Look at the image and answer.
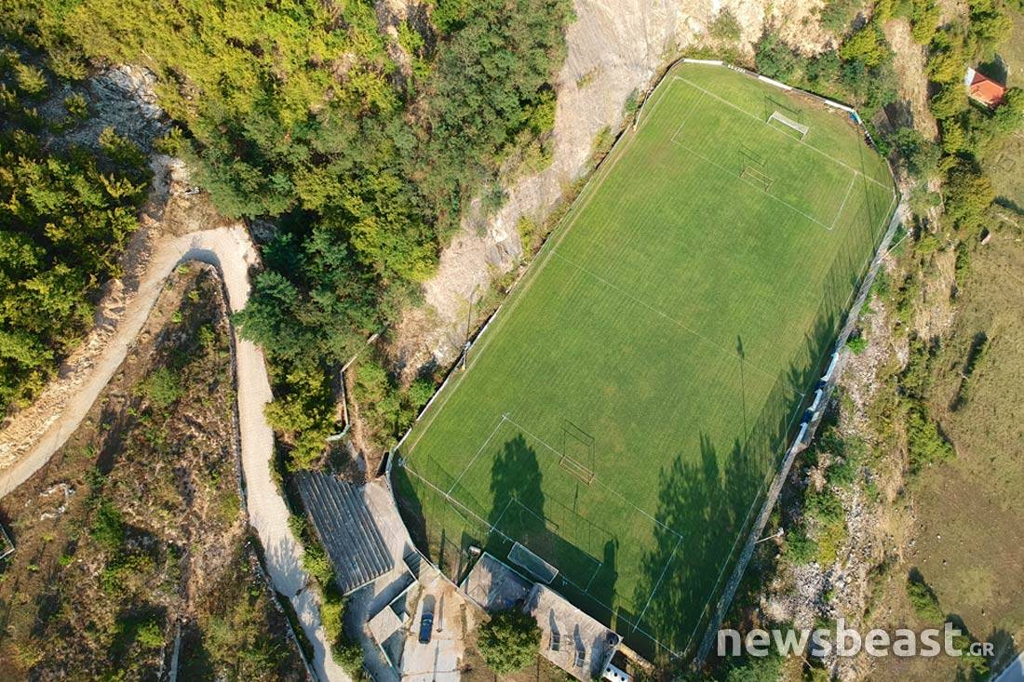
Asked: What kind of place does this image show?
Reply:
sports ground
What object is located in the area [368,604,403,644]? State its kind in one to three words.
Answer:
shed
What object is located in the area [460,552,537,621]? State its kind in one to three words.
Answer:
building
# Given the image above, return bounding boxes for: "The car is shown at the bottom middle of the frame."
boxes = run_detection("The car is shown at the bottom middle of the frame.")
[419,613,435,647]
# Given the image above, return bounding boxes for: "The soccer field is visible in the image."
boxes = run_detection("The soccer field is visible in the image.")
[389,61,897,682]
